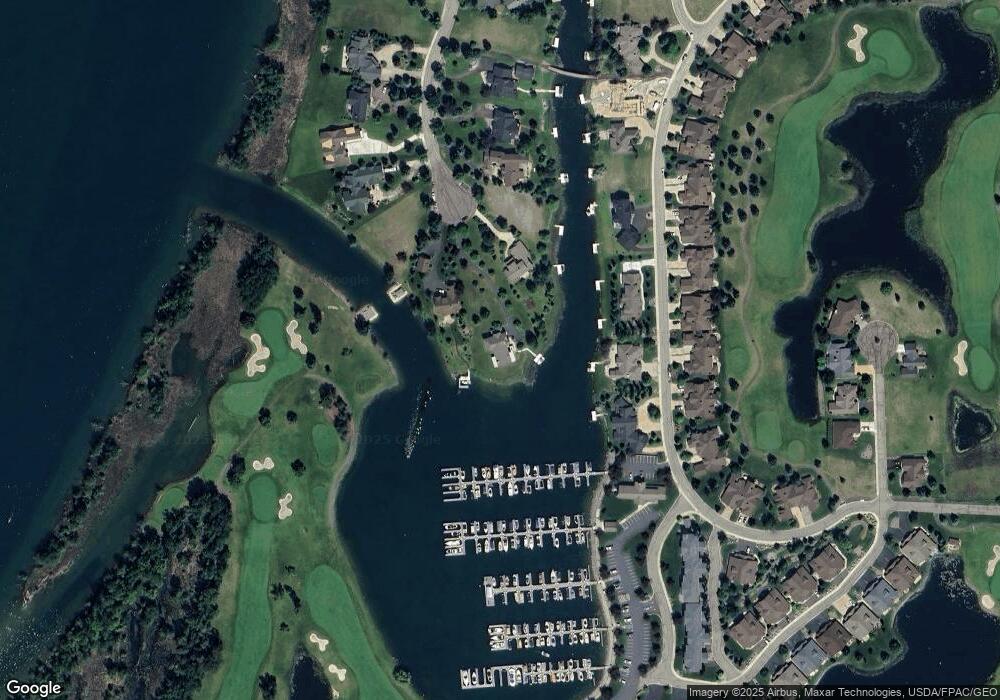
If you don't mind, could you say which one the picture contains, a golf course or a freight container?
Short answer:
golf course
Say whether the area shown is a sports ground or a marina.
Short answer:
marina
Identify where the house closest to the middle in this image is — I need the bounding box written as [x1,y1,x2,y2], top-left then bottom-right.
[481,328,516,369]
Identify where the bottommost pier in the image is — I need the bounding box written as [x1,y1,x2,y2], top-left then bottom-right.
[460,659,611,689]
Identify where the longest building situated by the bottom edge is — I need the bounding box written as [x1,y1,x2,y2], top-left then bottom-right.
[680,534,713,669]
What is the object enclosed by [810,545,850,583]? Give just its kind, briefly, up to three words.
house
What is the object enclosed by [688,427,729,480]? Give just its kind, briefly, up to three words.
house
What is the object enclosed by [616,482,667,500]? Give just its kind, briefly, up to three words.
building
